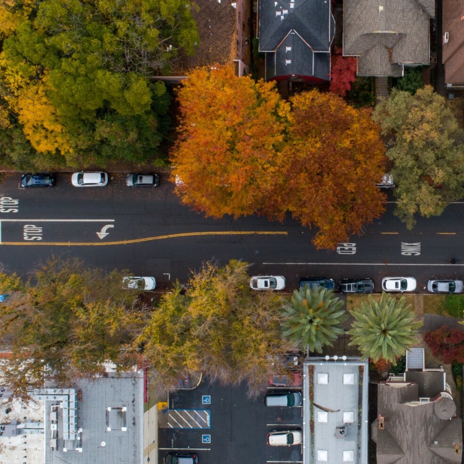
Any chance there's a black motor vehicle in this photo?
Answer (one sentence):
Yes, the image includes a black motor vehicle.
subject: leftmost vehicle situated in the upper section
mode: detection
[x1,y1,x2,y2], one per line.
[22,172,55,189]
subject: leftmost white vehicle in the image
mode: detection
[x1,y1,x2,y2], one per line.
[72,170,109,188]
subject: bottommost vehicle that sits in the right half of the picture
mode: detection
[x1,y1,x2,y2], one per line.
[267,429,303,448]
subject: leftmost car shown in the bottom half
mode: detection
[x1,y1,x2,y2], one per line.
[121,275,159,291]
